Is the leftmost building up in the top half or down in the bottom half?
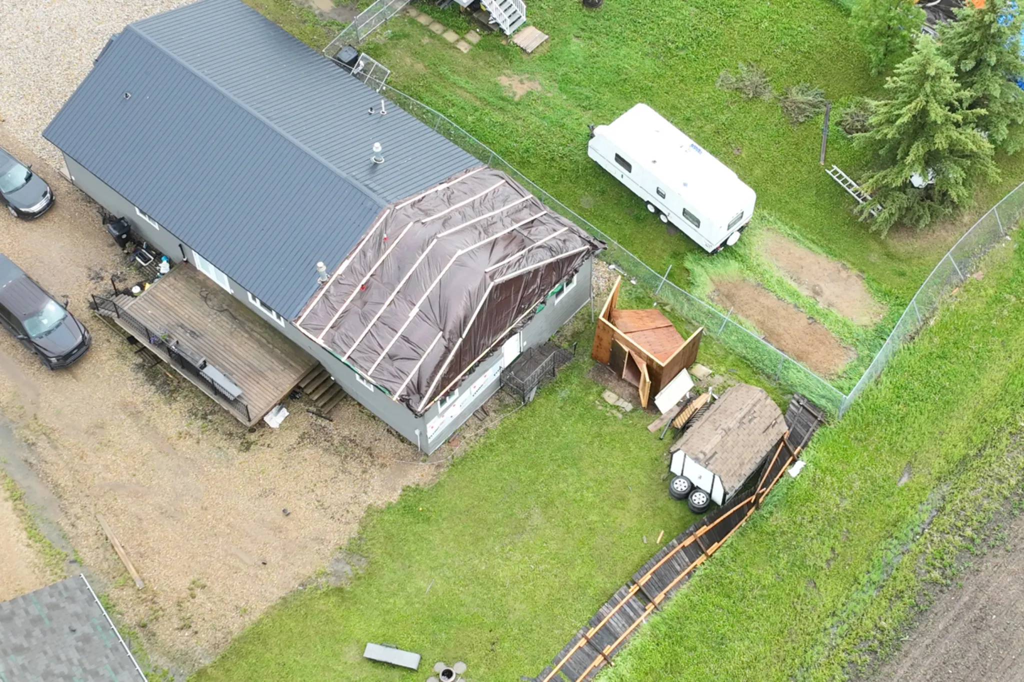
bottom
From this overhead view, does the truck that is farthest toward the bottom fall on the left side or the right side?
left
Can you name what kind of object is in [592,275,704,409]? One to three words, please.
shed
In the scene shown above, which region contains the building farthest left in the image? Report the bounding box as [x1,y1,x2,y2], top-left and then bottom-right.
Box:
[0,574,150,682]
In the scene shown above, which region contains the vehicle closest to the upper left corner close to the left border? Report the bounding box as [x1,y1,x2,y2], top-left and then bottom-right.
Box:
[0,147,56,225]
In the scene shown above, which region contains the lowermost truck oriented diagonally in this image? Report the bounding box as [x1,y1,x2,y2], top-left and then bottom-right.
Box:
[0,256,94,371]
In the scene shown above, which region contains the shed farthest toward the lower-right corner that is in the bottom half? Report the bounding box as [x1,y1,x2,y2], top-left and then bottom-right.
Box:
[665,381,789,506]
